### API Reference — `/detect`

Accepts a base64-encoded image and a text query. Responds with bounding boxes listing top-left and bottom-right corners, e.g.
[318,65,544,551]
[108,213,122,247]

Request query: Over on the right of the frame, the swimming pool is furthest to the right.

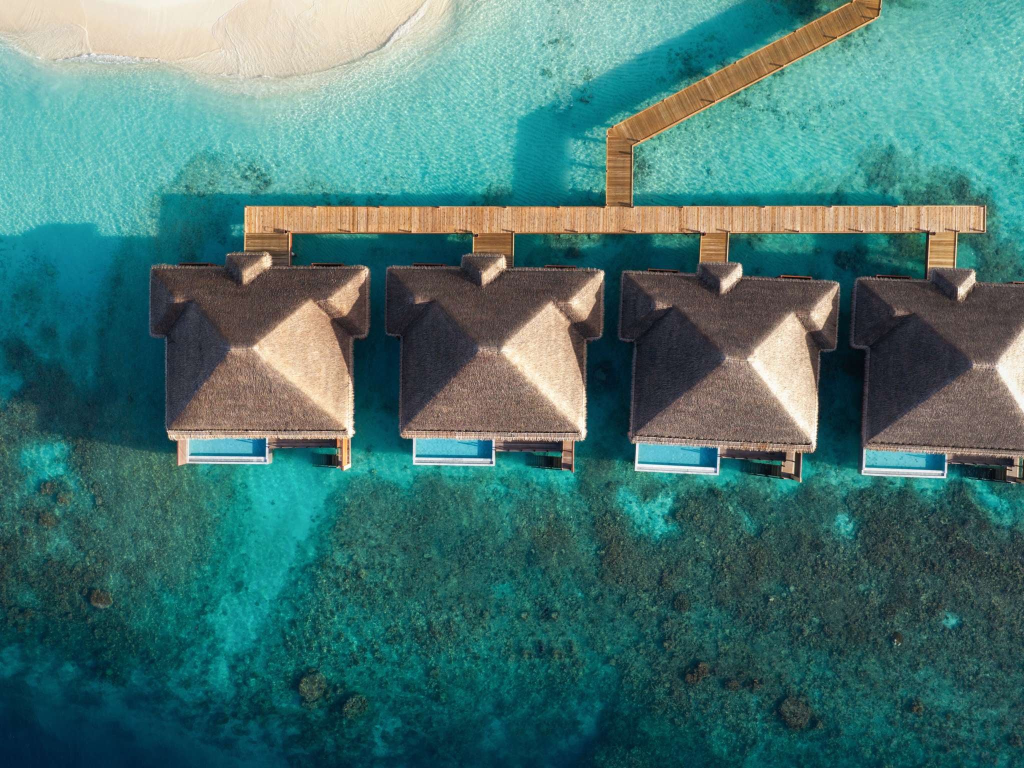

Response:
[858,434,952,482]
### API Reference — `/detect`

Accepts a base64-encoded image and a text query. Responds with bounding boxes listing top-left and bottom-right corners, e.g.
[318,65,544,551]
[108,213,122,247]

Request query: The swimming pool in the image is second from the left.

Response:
[412,437,498,466]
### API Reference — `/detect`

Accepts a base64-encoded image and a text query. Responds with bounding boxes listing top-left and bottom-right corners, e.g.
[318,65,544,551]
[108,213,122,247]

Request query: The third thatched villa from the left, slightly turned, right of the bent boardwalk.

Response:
[617,261,843,485]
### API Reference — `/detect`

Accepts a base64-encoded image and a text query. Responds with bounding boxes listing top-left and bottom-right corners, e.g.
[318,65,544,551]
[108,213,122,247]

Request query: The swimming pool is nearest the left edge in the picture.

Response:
[188,438,273,466]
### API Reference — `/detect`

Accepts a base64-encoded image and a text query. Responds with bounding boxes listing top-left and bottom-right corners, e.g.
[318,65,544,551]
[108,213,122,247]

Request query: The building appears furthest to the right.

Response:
[841,269,1024,491]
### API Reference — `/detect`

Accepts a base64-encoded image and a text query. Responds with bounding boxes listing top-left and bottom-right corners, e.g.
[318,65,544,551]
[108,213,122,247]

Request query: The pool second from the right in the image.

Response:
[635,443,725,474]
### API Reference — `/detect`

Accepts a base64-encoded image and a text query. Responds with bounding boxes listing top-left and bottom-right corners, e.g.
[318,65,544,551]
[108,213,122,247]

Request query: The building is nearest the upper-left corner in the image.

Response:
[148,253,372,473]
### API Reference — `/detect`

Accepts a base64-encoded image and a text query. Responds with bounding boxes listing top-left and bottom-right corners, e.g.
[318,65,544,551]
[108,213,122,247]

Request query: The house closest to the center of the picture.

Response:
[381,253,607,474]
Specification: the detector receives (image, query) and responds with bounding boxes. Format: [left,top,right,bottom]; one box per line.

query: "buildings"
[148,253,372,473]
[381,253,607,474]
[617,261,843,485]
[841,269,1024,491]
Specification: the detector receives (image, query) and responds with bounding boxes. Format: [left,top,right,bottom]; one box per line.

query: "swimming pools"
[188,438,273,466]
[412,437,498,466]
[858,434,952,482]
[635,443,725,474]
